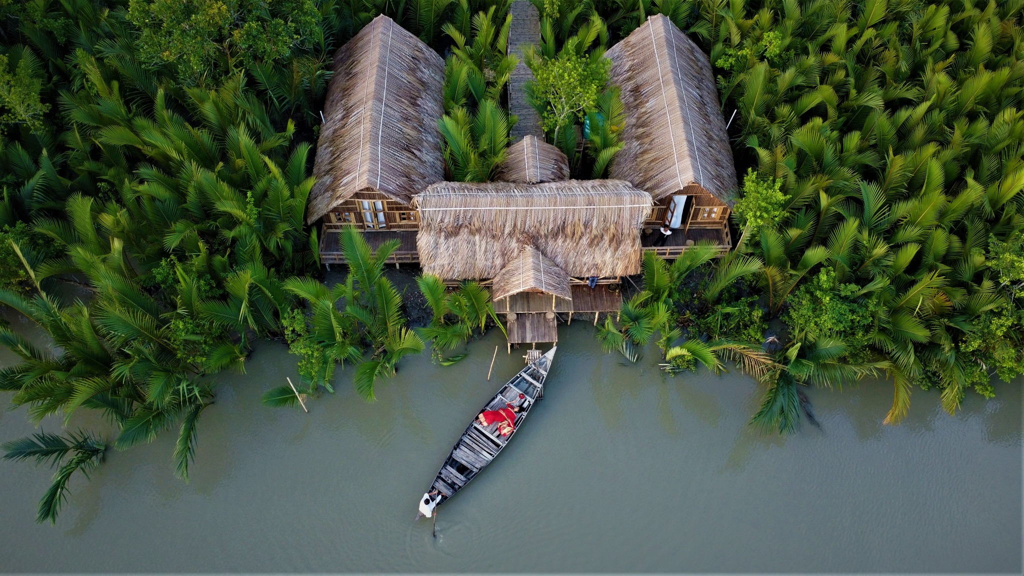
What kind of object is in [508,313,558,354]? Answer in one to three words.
pier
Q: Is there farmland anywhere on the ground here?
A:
No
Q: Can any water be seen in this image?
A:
Yes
